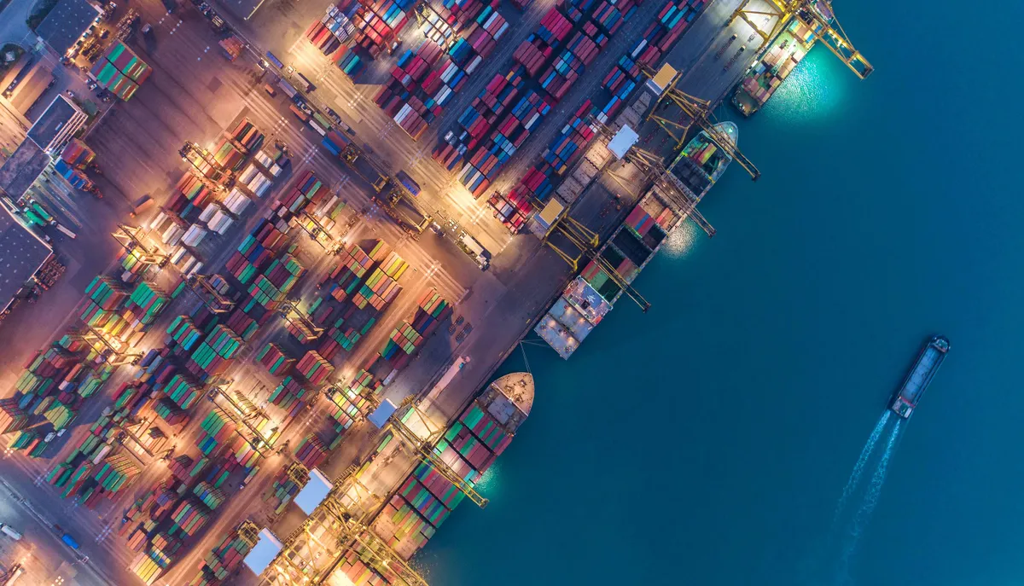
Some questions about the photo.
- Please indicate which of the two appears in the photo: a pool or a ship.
ship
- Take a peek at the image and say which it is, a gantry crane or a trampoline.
gantry crane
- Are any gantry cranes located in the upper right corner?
Yes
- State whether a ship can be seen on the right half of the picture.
Yes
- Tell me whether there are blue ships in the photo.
Yes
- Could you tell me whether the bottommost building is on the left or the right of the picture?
left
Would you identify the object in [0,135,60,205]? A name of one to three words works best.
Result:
building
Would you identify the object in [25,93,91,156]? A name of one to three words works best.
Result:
building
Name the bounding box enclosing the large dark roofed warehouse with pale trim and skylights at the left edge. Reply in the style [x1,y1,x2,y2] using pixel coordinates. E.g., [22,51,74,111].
[0,196,60,314]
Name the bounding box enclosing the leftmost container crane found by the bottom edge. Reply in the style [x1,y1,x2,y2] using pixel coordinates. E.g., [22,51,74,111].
[240,524,339,586]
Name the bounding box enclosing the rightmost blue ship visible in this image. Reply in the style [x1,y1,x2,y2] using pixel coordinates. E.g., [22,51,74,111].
[890,337,947,418]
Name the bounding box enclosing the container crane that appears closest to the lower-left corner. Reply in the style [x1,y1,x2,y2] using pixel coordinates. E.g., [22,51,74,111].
[118,427,179,468]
